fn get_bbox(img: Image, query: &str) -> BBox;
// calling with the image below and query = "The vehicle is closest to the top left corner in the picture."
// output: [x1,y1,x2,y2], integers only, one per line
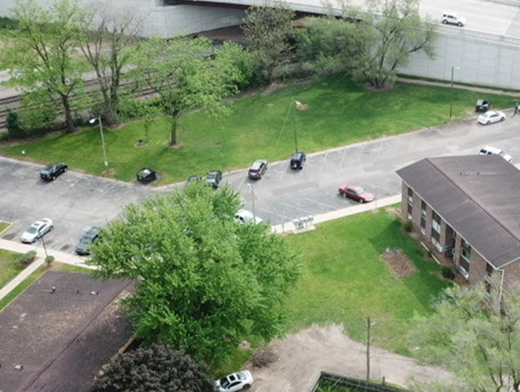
[35,157,69,178]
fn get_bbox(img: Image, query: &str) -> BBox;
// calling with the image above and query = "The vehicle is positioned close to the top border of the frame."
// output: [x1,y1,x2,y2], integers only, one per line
[437,11,465,25]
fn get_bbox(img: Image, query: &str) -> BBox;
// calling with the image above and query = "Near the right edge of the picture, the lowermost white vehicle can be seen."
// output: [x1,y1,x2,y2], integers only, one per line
[479,139,515,160]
